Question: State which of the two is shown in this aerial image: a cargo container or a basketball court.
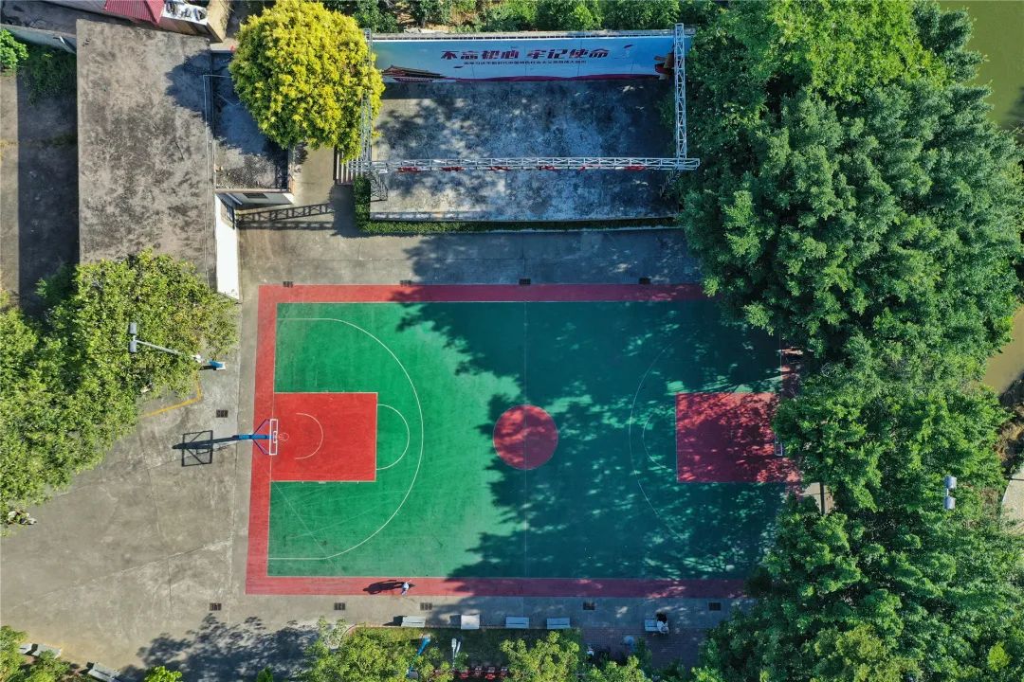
basketball court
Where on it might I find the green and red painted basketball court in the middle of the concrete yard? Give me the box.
[246,284,808,598]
